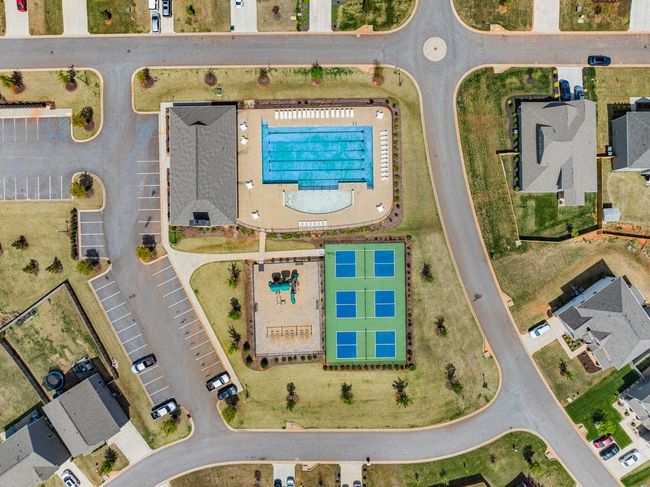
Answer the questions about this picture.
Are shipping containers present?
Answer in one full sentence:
No, this view has no shipping container in it.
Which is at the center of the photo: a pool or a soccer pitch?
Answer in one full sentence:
You can see a pool at the center of the photo.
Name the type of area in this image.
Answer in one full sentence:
What you see here is a residential area.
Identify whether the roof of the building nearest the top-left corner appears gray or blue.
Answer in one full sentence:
The color of the roof of the building nearest the top-left corner is gray.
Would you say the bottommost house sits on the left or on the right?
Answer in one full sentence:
The bottommost house appears in the left half of the scene.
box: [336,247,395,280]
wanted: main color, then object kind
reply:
blue sports court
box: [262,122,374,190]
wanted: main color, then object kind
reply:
blue swimming pool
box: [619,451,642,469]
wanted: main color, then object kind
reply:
white car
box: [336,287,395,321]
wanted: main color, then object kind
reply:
blue sports court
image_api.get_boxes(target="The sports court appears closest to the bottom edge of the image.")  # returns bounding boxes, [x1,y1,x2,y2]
[336,328,396,361]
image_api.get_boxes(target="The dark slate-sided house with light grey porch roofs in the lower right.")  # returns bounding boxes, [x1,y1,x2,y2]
[621,377,650,444]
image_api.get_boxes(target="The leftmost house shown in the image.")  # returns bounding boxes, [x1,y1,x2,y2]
[0,419,69,487]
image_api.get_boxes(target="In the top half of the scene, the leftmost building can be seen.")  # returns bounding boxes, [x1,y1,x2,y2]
[169,105,238,227]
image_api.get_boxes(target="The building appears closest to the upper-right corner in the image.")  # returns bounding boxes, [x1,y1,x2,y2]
[614,98,650,175]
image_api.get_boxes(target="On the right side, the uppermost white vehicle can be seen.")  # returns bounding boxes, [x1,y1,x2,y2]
[529,322,552,339]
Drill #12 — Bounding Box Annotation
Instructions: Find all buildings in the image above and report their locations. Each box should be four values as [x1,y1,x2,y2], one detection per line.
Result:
[0,419,69,487]
[554,277,650,377]
[621,377,650,444]
[614,98,650,175]
[602,208,621,222]
[169,105,238,227]
[517,97,597,206]
[42,374,127,459]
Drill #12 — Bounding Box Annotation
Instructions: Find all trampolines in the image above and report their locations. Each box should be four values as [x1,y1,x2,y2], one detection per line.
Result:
[46,371,65,387]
